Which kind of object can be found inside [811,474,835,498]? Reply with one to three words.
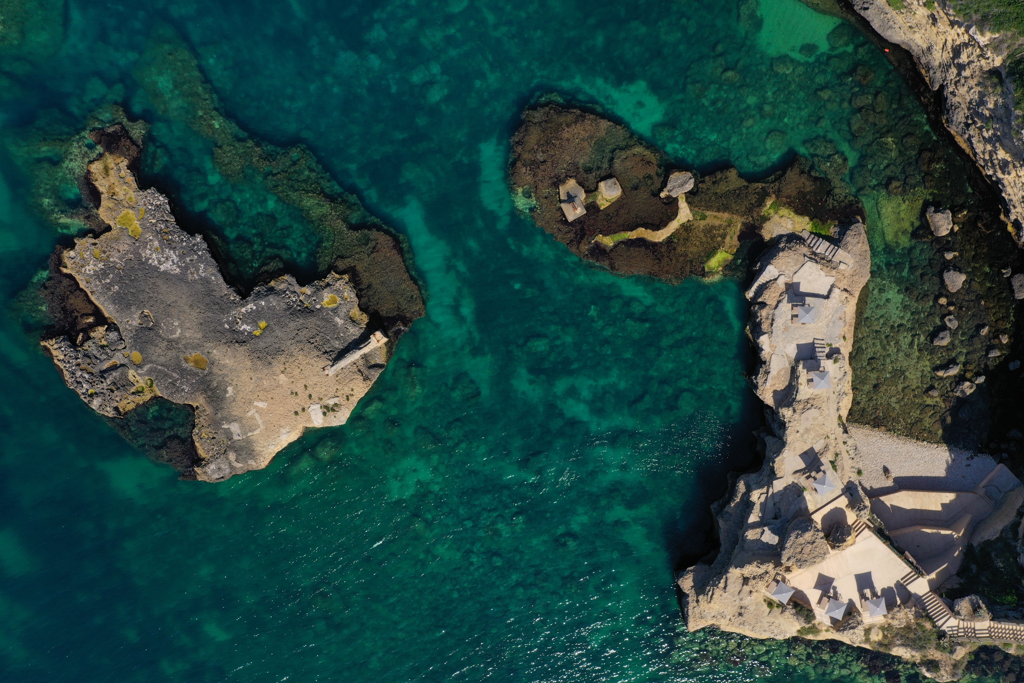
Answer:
umbrella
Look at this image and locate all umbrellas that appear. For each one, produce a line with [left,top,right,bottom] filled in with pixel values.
[812,371,831,390]
[811,474,835,498]
[797,306,815,324]
[824,598,847,621]
[770,581,794,605]
[866,597,887,618]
